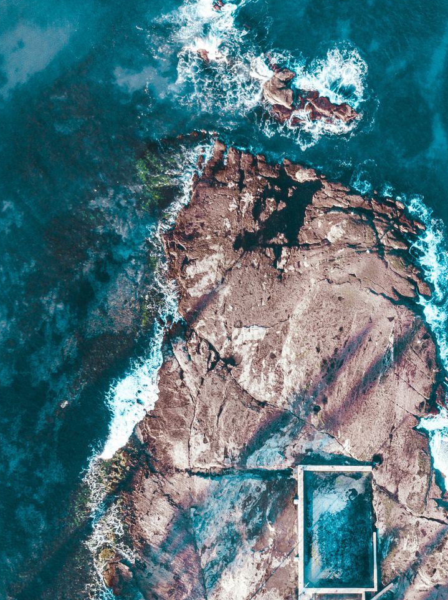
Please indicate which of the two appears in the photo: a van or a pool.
pool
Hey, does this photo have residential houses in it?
No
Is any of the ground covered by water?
Yes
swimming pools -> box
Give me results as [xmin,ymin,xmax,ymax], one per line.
[308,593,365,600]
[294,466,377,599]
